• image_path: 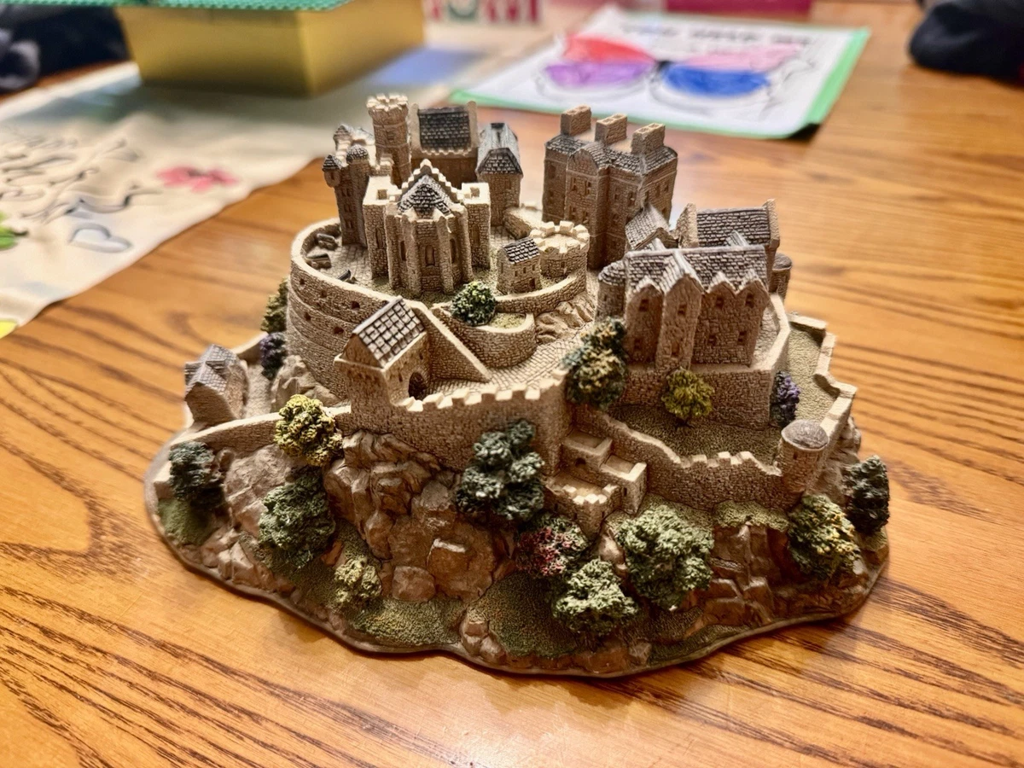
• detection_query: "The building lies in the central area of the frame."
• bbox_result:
[144,87,899,677]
